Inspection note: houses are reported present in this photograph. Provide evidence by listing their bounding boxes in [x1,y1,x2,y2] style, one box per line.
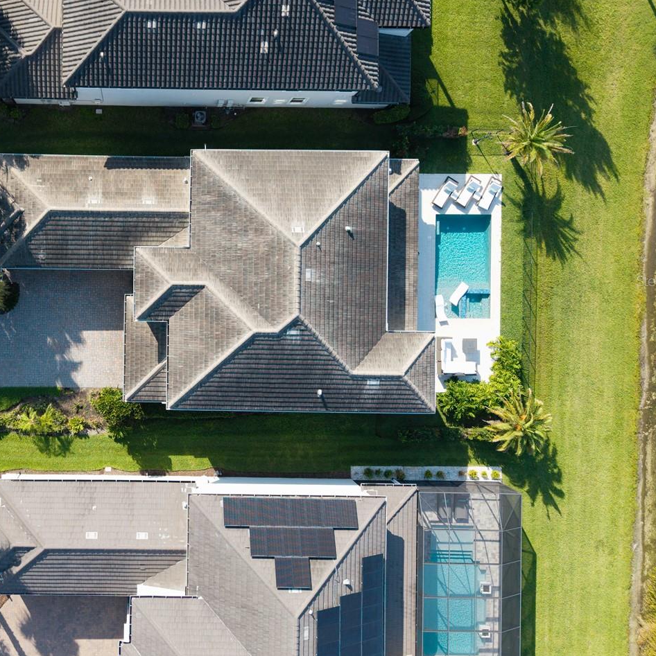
[0,475,419,656]
[0,0,433,109]
[0,144,437,415]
